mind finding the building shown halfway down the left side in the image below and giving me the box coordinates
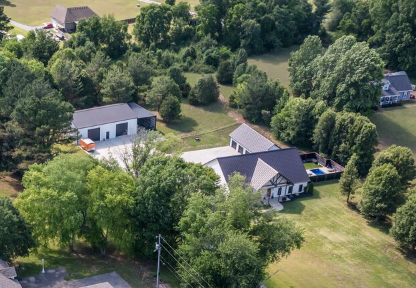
[58,101,156,144]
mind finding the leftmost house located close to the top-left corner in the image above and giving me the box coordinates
[47,5,100,31]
